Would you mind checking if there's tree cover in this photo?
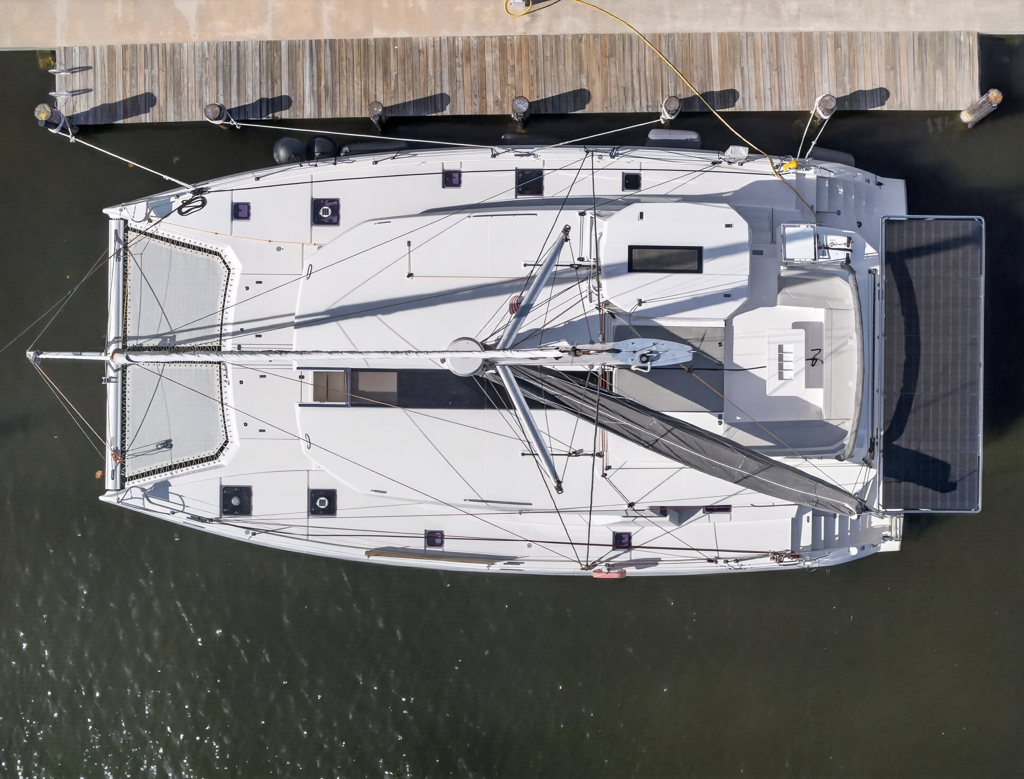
No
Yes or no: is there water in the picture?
Yes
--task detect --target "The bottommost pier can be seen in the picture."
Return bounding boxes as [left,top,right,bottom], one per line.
[55,32,979,125]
